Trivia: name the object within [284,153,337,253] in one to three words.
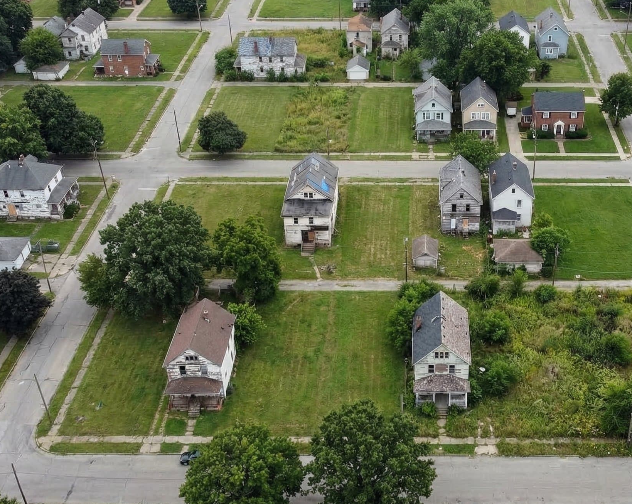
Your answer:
house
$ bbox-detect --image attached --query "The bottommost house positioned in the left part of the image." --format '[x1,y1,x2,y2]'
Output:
[161,298,234,416]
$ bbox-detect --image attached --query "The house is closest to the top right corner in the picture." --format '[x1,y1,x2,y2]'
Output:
[537,3,570,54]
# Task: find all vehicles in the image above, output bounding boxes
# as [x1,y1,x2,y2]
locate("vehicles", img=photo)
[177,448,209,465]
[505,95,517,115]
